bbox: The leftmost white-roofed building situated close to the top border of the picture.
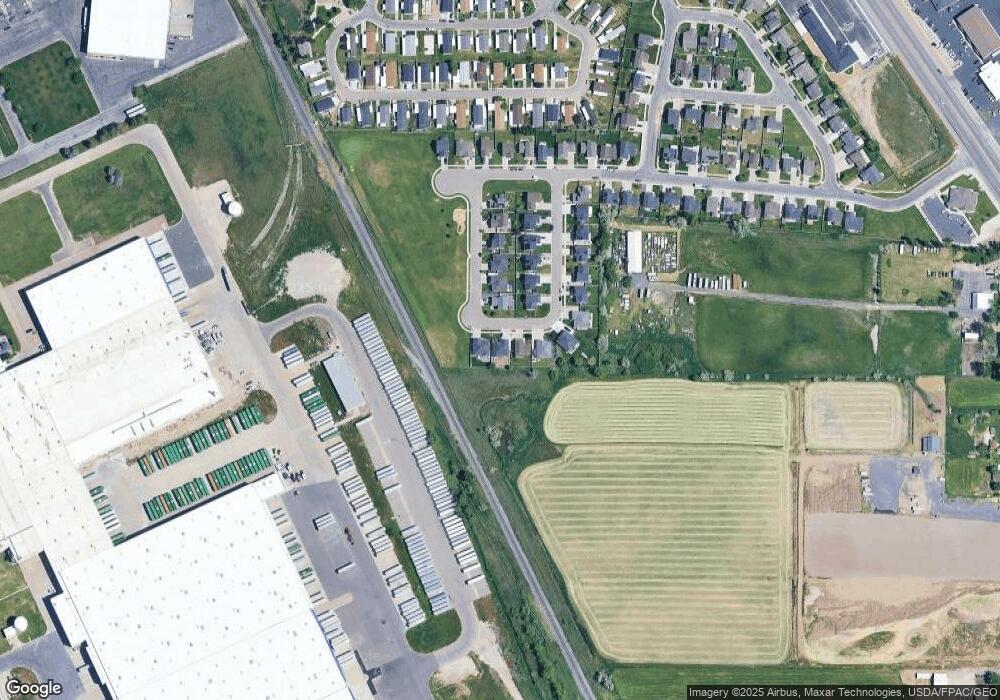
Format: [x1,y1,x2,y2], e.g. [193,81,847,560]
[84,0,195,69]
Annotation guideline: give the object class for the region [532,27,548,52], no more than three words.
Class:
house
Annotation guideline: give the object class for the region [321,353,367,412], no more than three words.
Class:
shed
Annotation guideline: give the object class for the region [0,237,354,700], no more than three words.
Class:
warehouse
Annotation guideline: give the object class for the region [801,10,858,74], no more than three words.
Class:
building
